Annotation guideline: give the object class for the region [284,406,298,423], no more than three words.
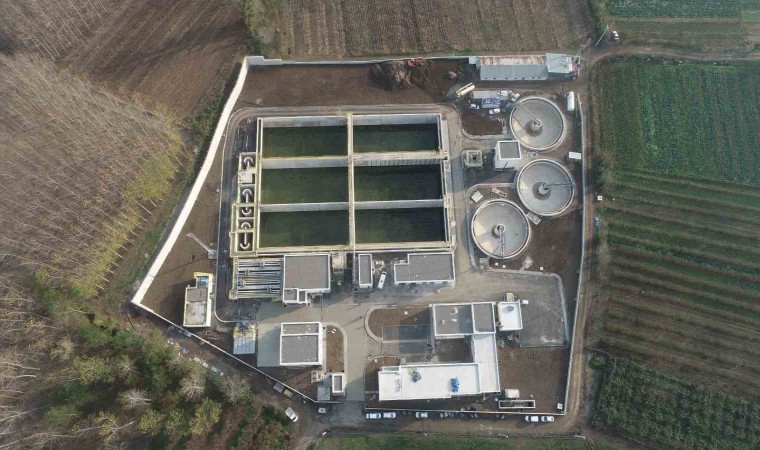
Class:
vehicle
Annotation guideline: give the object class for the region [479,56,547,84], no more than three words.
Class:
shed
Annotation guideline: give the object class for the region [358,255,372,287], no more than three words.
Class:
building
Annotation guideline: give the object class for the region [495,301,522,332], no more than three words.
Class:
building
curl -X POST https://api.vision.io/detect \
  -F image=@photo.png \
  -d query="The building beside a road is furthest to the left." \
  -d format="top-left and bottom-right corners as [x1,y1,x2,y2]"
[183,273,215,327]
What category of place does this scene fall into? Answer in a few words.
industrial area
